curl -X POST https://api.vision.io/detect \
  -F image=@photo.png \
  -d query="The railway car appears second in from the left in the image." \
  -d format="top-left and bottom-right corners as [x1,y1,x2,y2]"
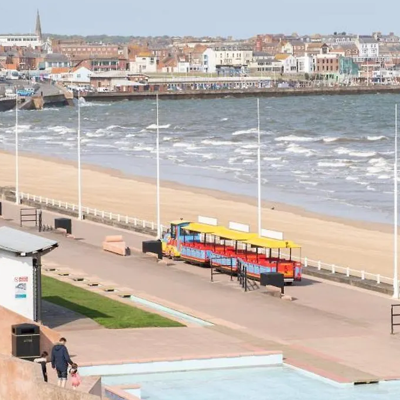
[210,223,268,277]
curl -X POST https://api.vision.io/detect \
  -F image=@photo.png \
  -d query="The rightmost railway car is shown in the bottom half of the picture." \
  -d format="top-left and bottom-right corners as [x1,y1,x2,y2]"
[242,229,309,286]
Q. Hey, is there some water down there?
Yes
